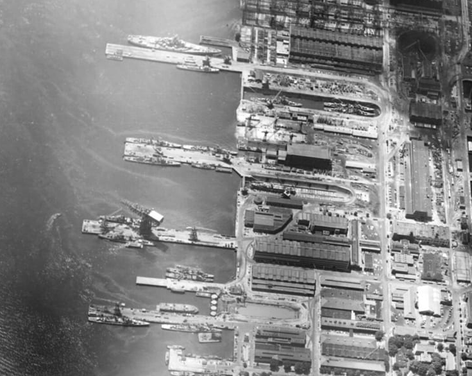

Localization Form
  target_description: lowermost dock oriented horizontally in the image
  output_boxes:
[169,348,238,374]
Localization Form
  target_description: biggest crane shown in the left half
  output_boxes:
[118,198,167,240]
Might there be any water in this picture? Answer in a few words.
Yes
